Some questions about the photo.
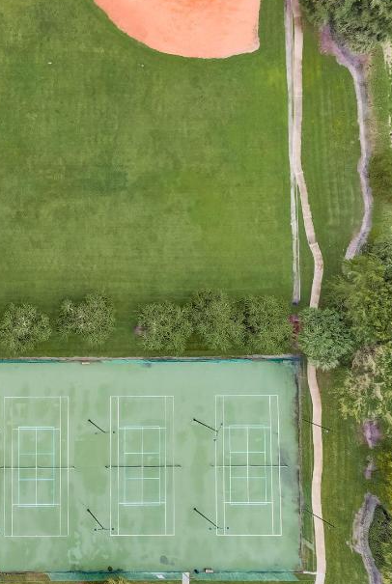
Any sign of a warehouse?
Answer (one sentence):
No, there isn't any warehouse down there.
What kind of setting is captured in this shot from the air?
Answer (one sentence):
What you see here is a sports ground.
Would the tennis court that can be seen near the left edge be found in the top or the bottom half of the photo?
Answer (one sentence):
You can find the tennis court that can be seen near the left edge in the bottom half.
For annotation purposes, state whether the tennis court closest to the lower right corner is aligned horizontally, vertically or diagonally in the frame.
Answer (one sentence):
The tennis court closest to the lower right corner is oriented vertically.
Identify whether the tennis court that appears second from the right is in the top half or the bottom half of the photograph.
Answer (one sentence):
The tennis court that appears second from the right is in the bottom half of the image.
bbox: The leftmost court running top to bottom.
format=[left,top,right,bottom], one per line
[0,384,76,548]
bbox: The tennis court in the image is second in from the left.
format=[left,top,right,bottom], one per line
[104,383,182,547]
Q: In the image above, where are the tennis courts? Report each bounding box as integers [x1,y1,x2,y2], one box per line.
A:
[208,383,289,547]
[0,384,76,548]
[104,383,182,547]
